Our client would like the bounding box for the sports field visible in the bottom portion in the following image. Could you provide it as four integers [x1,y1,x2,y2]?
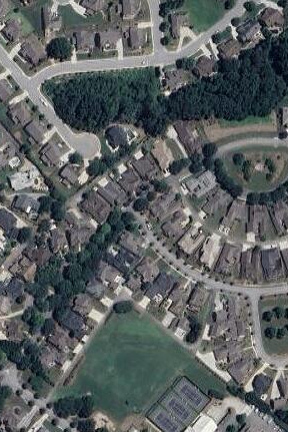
[51,308,220,418]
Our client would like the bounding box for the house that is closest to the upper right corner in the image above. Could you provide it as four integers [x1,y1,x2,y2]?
[260,4,285,32]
